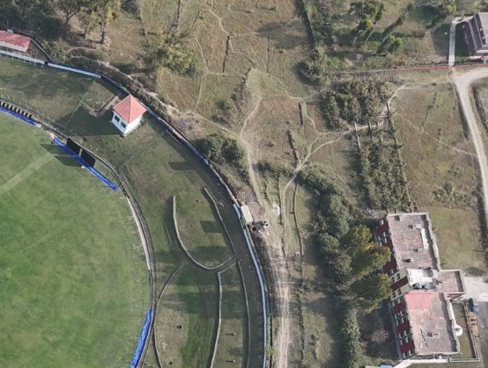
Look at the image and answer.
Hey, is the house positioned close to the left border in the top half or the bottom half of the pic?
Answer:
top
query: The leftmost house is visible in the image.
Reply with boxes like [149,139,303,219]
[0,29,31,55]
